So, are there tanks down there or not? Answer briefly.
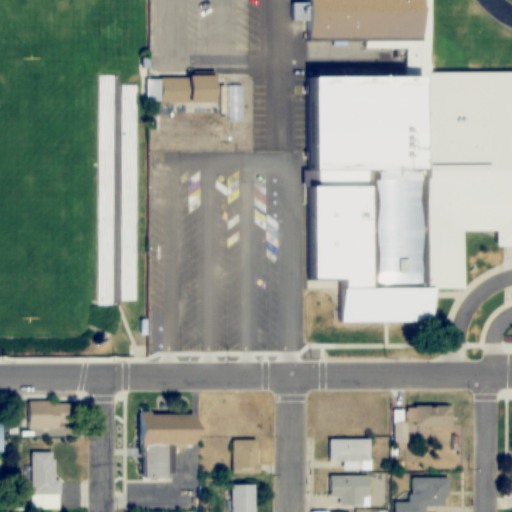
No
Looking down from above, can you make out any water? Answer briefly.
No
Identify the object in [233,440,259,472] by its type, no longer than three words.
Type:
house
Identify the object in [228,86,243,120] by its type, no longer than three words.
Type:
shed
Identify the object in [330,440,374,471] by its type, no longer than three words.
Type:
house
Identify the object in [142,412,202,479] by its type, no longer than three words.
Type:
building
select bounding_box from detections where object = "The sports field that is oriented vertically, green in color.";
[0,0,144,338]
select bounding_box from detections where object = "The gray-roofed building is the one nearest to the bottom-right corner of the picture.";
[395,476,450,512]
